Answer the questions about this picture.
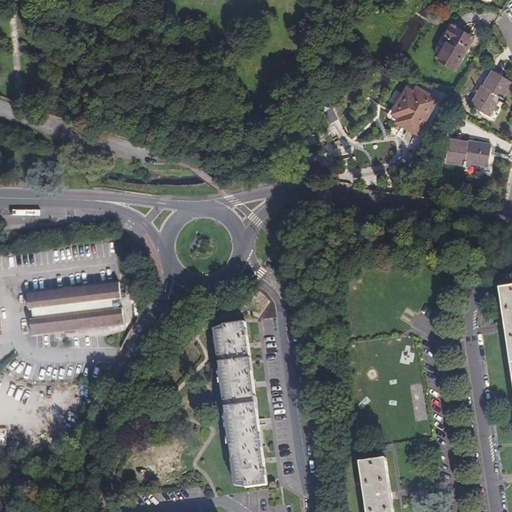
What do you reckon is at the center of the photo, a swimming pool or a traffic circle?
traffic circle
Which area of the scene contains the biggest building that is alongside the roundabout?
bottom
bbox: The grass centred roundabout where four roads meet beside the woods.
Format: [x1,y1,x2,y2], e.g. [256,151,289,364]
[158,200,250,291]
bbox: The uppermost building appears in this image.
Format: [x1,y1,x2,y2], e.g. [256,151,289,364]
[436,24,471,70]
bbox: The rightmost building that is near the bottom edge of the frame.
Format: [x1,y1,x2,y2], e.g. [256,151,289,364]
[357,457,394,512]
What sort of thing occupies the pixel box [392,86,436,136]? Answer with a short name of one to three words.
house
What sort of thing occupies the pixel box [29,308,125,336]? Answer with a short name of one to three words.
shed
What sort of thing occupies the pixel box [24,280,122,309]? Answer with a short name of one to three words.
shed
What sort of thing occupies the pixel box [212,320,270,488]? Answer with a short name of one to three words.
building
